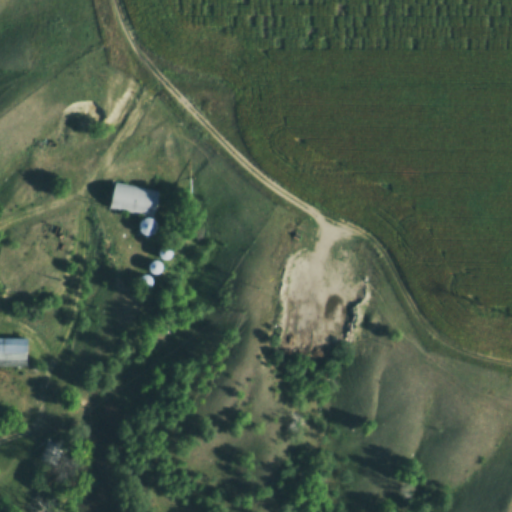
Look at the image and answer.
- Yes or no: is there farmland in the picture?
Yes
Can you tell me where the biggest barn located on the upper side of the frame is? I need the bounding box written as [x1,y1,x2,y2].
[110,182,158,214]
